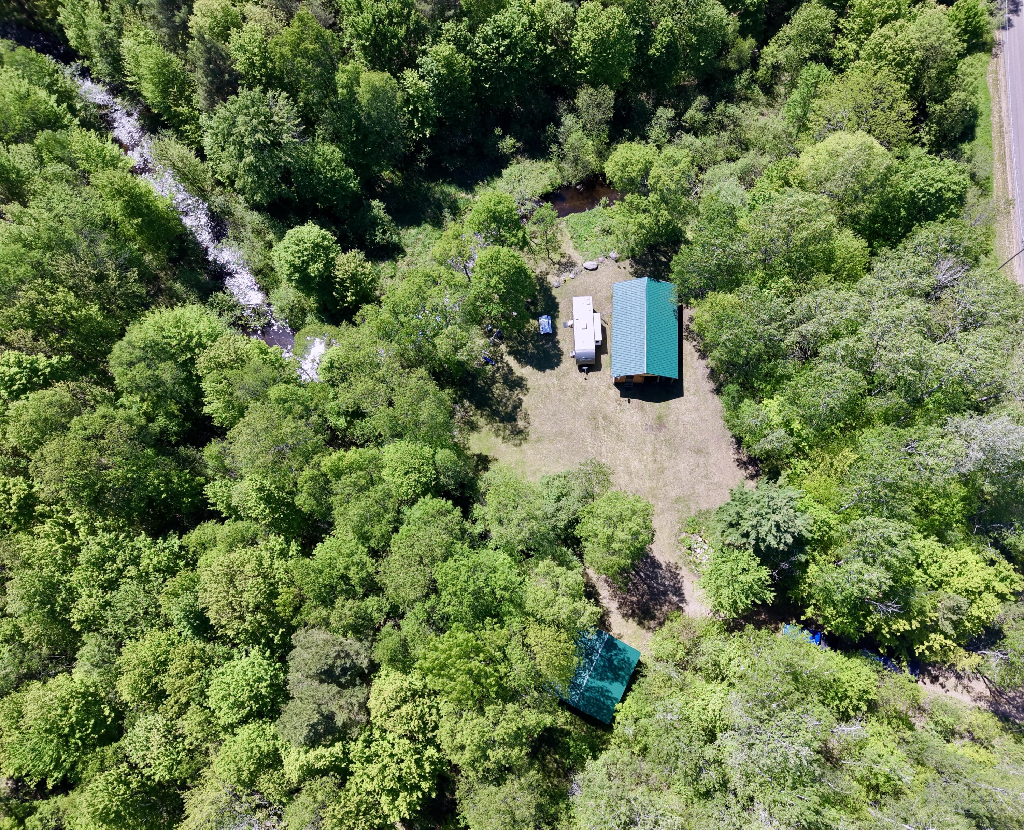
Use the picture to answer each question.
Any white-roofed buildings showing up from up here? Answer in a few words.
No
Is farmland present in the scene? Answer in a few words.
No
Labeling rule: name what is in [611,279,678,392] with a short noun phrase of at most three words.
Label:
building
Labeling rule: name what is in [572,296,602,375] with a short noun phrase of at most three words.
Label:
camper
